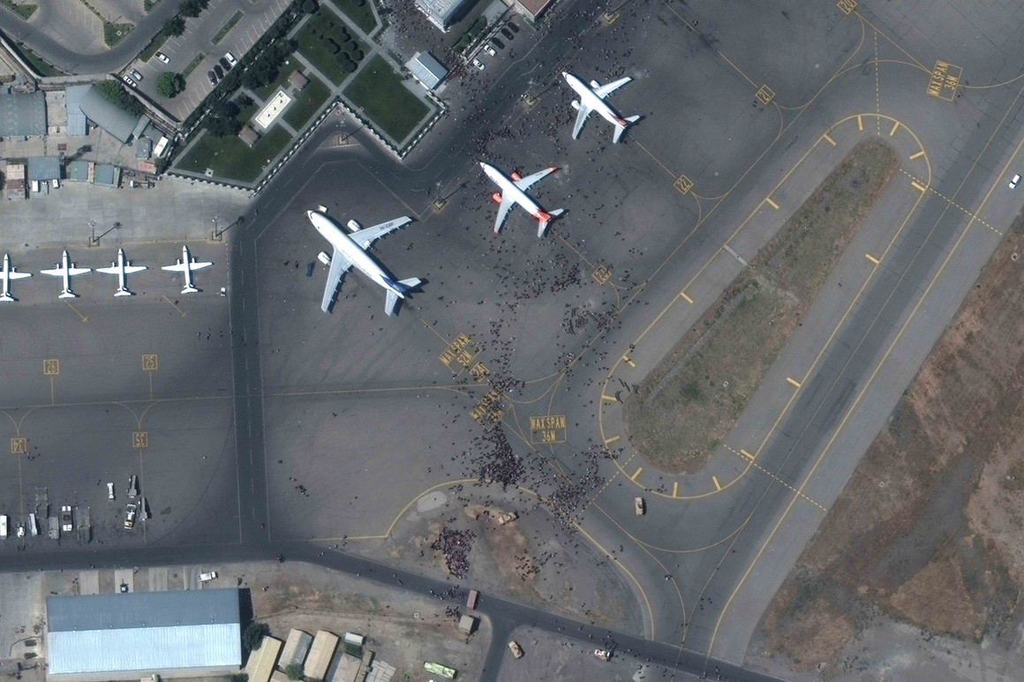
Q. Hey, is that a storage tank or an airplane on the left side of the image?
airplane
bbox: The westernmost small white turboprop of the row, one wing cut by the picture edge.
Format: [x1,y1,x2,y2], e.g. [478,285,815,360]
[0,254,32,299]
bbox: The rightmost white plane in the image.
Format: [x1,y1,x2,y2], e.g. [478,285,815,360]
[565,72,638,138]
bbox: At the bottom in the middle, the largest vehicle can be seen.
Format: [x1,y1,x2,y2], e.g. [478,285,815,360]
[425,659,455,677]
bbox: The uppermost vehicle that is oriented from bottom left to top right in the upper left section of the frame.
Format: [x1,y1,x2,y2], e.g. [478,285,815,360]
[152,135,168,156]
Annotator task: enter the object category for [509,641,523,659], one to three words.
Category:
vehicle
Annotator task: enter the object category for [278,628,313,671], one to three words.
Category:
shed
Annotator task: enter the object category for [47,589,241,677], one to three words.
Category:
hangar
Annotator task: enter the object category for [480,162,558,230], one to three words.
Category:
airplane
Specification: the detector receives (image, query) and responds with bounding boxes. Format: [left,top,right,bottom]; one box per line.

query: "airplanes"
[480,162,558,230]
[96,248,146,294]
[162,245,212,290]
[41,250,91,295]
[0,254,32,299]
[565,72,638,138]
[307,210,415,309]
